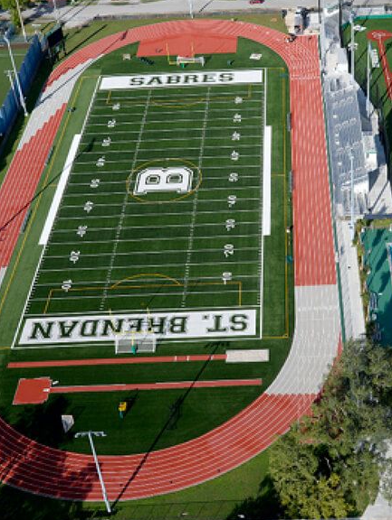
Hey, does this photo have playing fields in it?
Yes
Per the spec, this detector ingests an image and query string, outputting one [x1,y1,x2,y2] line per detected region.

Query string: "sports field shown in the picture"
[14,69,267,346]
